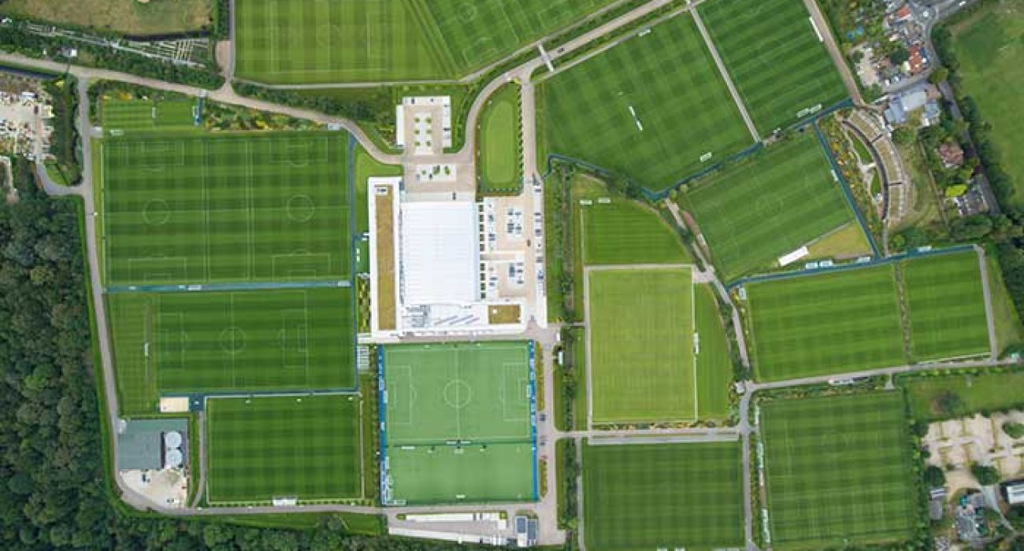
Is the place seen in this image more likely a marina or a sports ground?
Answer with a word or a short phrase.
sports ground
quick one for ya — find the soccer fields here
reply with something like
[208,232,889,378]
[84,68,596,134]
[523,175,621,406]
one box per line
[581,199,689,264]
[584,442,745,551]
[694,0,849,136]
[746,264,907,380]
[384,342,532,444]
[386,443,535,504]
[760,392,916,543]
[110,292,160,415]
[228,131,350,283]
[429,0,618,78]
[542,13,757,190]
[696,285,729,420]
[903,250,992,363]
[104,132,228,285]
[590,267,699,424]
[206,394,361,504]
[158,286,354,392]
[680,130,855,281]
[236,0,462,83]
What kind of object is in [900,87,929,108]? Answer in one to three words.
barn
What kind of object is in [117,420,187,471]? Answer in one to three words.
shed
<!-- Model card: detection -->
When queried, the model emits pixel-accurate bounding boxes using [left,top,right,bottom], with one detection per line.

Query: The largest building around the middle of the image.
[358,176,544,343]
